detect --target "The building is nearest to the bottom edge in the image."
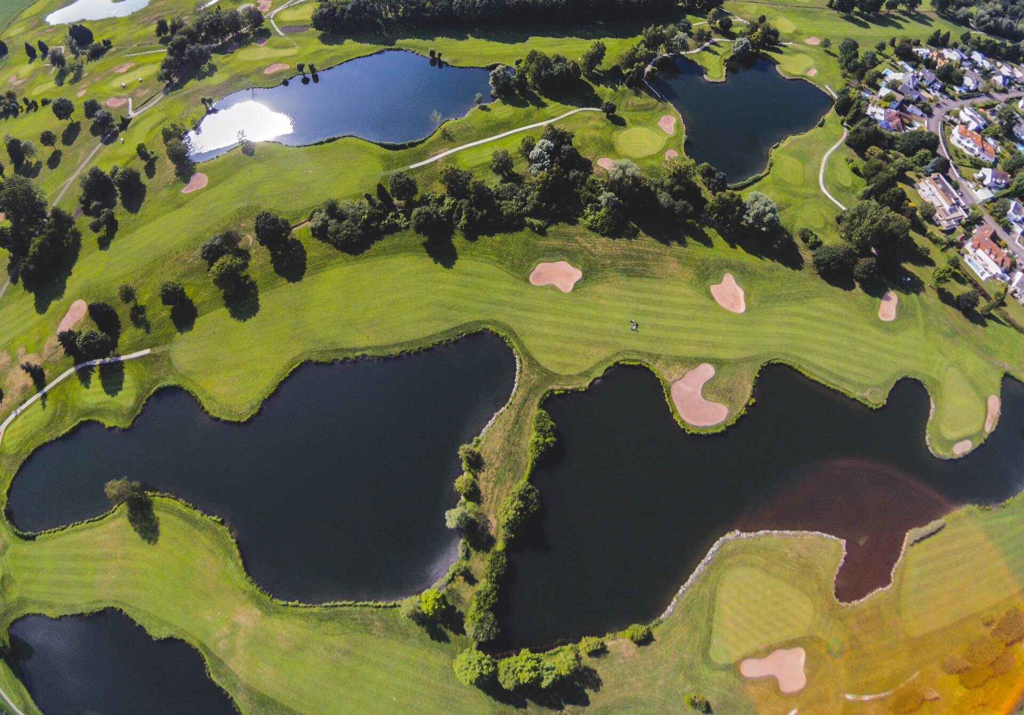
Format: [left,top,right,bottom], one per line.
[996,268,1024,298]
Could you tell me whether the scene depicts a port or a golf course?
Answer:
golf course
